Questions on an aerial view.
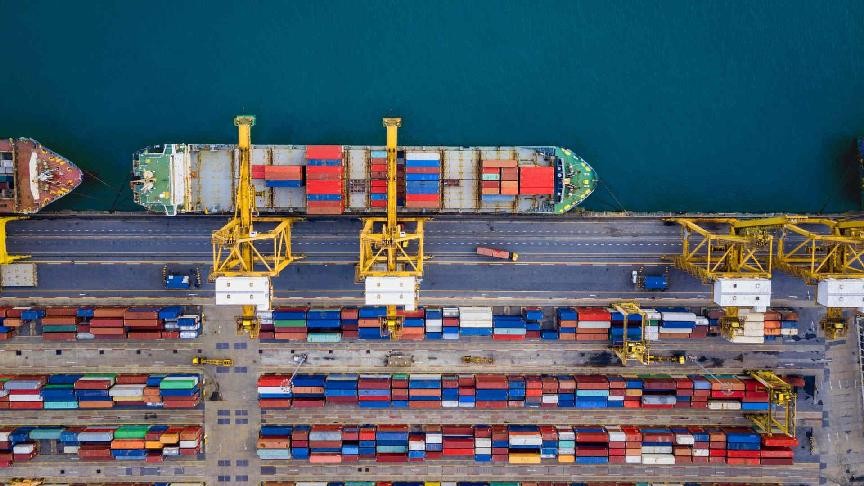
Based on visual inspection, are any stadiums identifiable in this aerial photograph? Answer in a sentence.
No, this view has no stadium in it.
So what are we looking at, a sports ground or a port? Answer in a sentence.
What you see here is a port.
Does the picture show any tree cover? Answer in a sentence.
No, the scene doesn't show any tree cover.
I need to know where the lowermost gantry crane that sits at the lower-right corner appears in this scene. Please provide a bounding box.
[744,369,795,439]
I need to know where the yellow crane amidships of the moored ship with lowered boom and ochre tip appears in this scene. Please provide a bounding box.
[354,112,433,343]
